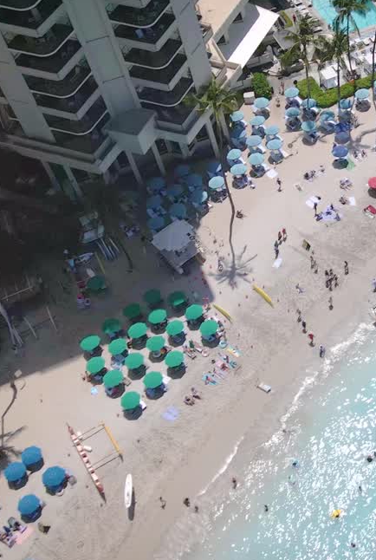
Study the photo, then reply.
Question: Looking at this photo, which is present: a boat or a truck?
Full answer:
Visible in the photo is a boat.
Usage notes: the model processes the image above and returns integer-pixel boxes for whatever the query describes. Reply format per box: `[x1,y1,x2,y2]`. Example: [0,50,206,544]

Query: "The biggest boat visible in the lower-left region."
[66,419,121,498]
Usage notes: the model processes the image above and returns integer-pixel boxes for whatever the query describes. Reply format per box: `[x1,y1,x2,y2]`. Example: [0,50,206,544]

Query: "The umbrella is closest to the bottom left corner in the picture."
[15,494,40,518]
